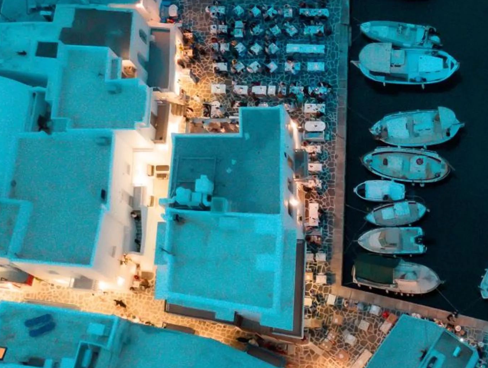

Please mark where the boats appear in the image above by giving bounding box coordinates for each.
[341,180,406,203]
[343,108,482,150]
[346,20,438,46]
[351,257,480,319]
[346,44,461,90]
[342,228,441,258]
[340,203,429,234]
[344,148,458,187]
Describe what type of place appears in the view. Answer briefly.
residential area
